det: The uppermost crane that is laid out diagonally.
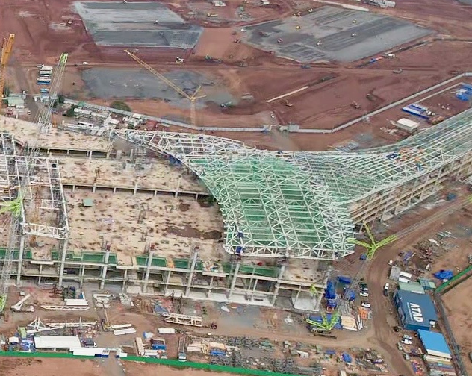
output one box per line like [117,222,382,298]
[124,49,206,133]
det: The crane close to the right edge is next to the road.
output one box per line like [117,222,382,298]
[308,193,472,338]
